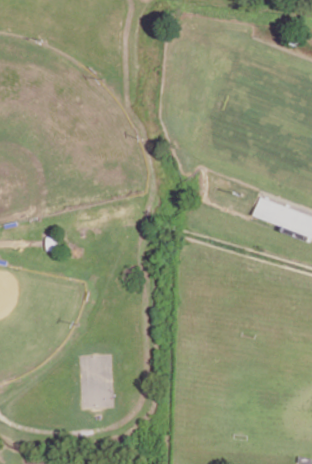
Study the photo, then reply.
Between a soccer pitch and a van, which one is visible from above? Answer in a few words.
soccer pitch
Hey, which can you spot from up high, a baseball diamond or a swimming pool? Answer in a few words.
baseball diamond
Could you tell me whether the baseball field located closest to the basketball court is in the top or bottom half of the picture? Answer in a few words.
bottom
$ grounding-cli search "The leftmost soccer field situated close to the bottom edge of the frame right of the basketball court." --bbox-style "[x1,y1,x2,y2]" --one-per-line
[196,328,288,446]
